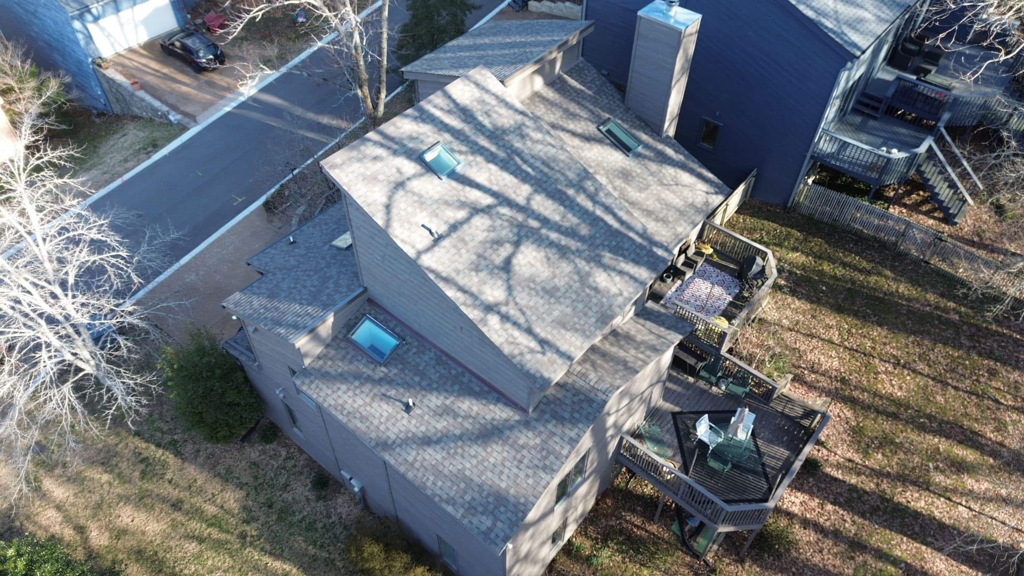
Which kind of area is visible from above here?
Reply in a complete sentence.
It's a residential area.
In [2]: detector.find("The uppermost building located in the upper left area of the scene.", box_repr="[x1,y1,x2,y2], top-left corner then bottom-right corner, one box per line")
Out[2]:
[0,0,214,112]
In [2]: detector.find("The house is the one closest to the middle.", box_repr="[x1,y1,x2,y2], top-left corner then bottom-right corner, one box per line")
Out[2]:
[219,0,735,576]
